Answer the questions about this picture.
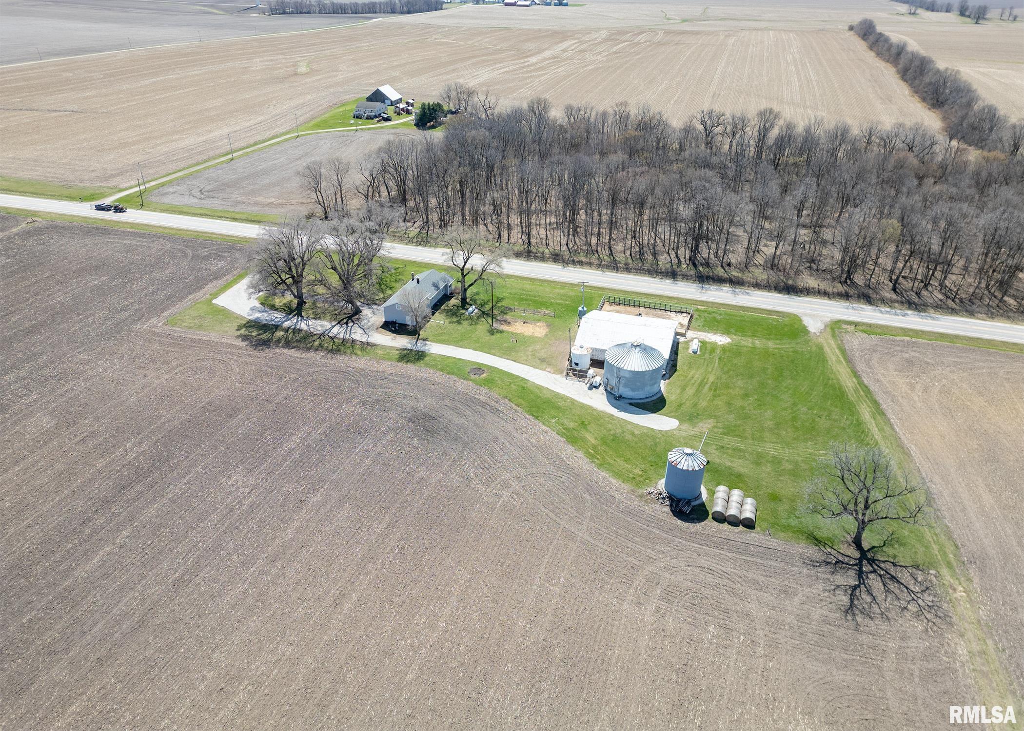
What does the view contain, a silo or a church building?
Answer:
silo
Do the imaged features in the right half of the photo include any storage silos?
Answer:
Yes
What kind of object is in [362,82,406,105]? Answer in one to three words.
barn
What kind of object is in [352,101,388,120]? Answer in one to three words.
house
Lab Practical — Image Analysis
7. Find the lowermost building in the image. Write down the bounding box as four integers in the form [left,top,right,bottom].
[575,310,678,372]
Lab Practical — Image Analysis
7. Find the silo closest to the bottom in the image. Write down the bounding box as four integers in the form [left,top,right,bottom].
[661,447,710,500]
